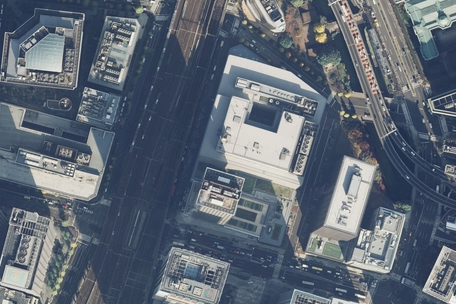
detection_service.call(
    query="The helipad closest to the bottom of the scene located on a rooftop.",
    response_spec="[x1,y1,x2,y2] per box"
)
[203,286,217,300]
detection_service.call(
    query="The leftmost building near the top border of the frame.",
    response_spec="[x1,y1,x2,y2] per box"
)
[0,8,86,98]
